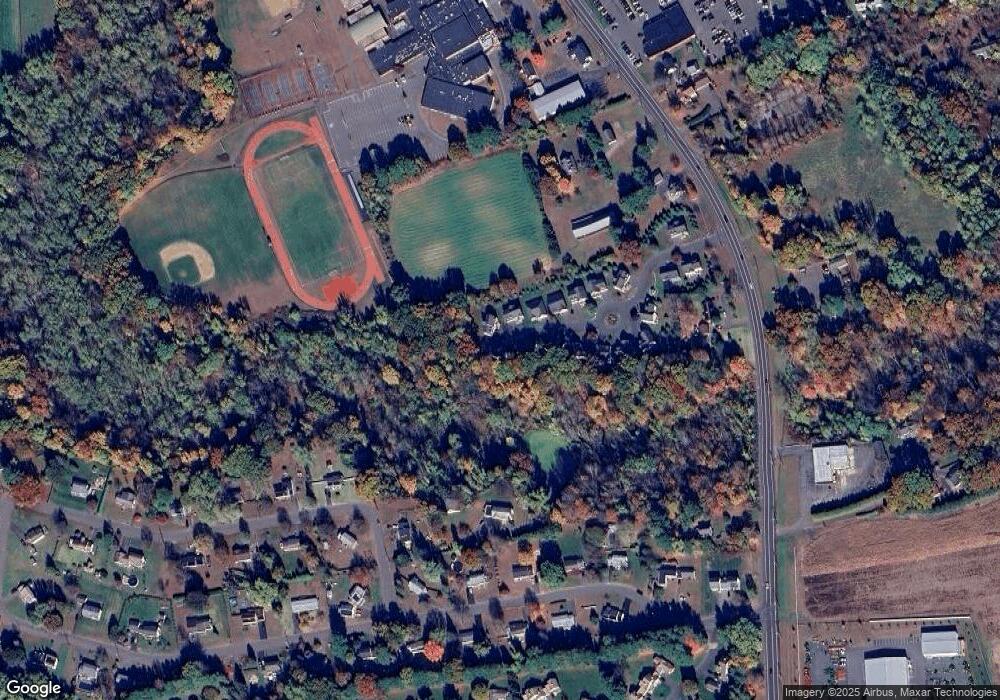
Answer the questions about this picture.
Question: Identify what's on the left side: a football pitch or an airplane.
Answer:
football pitch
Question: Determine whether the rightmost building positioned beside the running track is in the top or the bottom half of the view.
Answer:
top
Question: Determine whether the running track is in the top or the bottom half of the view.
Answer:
top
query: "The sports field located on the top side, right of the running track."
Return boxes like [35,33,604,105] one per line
[391,150,548,290]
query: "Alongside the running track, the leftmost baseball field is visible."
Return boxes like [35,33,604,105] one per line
[122,168,281,292]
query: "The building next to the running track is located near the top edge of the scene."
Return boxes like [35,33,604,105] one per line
[343,0,499,120]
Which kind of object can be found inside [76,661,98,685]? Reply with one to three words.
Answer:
house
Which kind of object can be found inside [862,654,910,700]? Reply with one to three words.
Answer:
building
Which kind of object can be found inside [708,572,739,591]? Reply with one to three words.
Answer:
house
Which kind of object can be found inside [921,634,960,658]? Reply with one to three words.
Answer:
building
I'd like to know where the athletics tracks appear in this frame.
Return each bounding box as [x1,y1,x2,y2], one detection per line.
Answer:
[247,114,383,307]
